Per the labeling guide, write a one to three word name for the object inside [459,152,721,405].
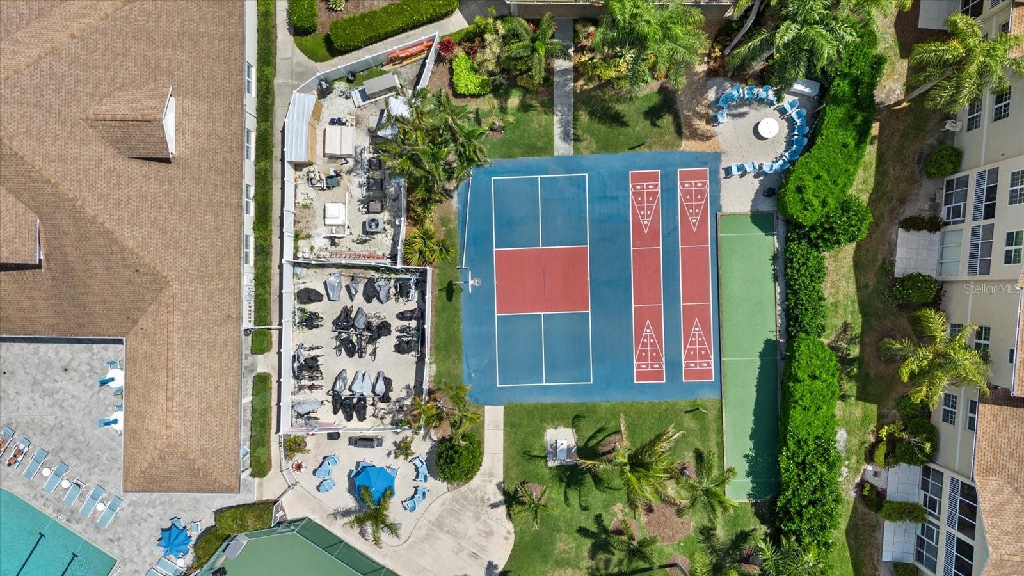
sports court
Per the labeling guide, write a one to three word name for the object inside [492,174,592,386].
sports court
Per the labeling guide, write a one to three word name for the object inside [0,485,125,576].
swimming pool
